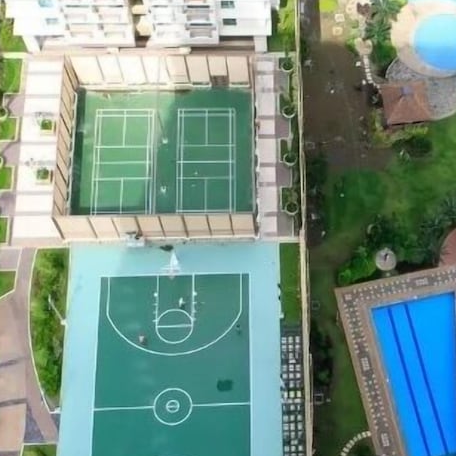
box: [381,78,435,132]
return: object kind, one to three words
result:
building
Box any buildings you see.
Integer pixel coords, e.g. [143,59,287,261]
[381,78,435,132]
[0,0,274,51]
